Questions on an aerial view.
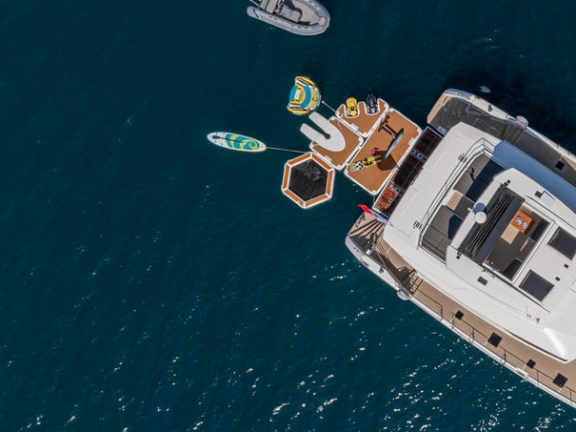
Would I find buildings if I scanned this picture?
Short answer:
No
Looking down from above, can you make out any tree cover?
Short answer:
No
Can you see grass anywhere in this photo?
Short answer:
No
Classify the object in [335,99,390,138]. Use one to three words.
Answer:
pier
